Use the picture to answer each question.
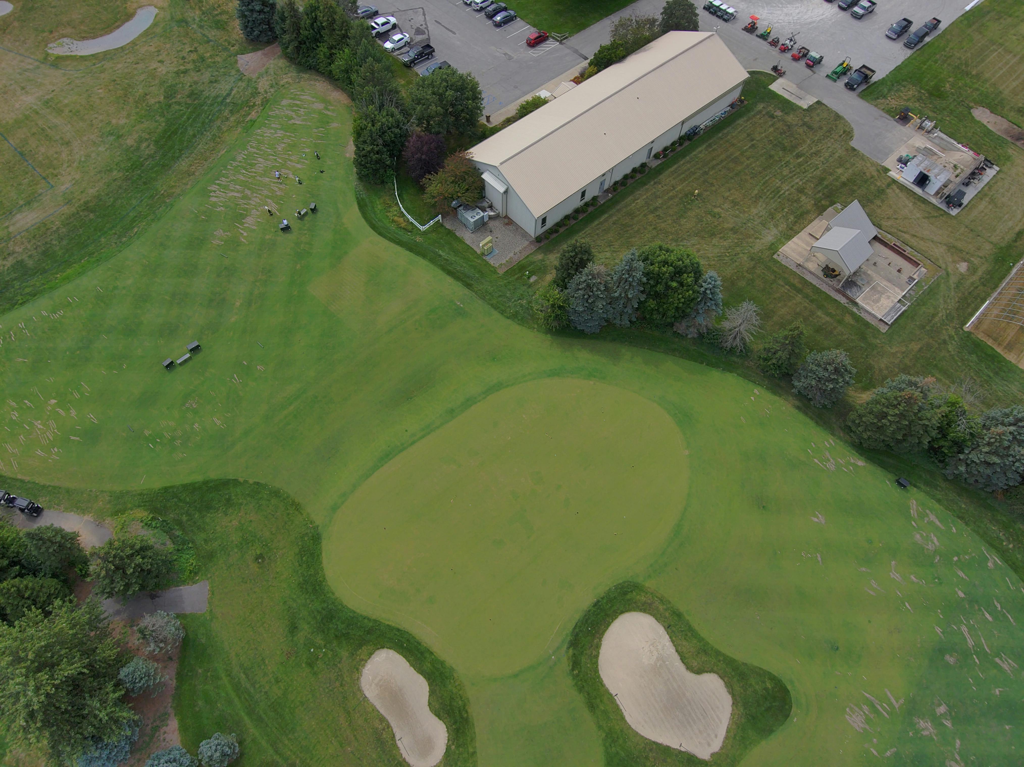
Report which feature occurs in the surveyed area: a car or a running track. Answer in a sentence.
Looking from above, you can make out a car.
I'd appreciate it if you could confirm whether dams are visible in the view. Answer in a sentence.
No, there's no dam here.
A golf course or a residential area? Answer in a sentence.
It's a golf course.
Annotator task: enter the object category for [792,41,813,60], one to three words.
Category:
vehicle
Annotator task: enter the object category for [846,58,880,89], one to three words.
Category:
truck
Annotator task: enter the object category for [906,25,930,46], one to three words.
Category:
car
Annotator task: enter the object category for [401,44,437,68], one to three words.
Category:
truck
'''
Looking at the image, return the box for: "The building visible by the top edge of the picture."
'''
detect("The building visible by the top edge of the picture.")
[468,28,750,235]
